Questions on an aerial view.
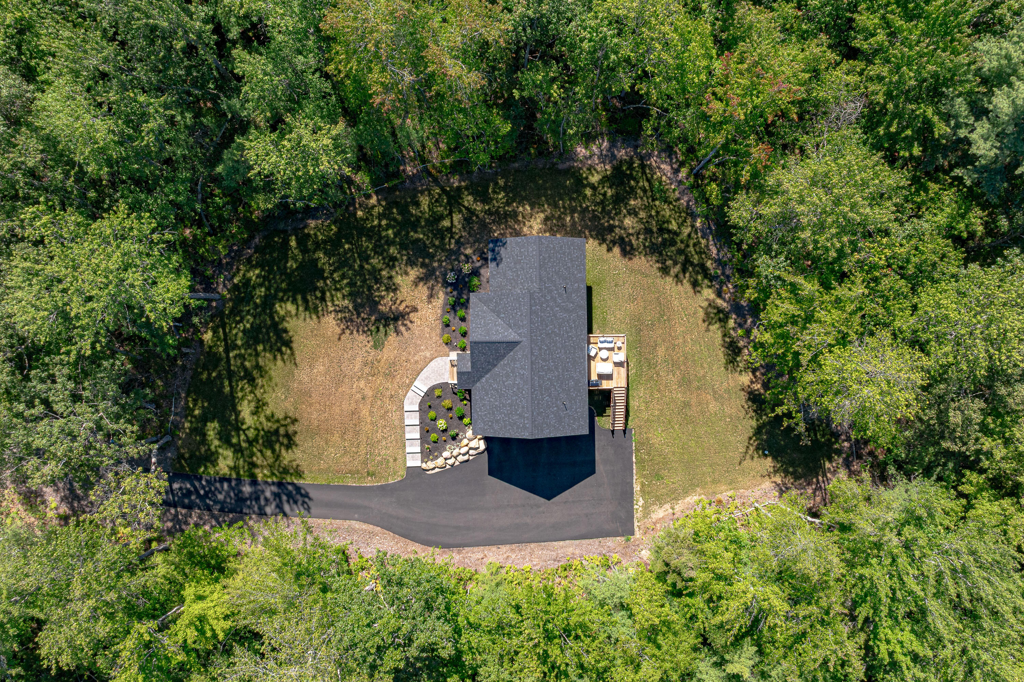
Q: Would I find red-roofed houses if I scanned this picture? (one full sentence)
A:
No, the picture doesn't show any red-roofed house.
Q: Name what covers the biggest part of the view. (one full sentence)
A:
The bulk of the photo consists of trees.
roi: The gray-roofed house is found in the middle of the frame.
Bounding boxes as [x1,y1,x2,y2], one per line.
[447,235,589,439]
